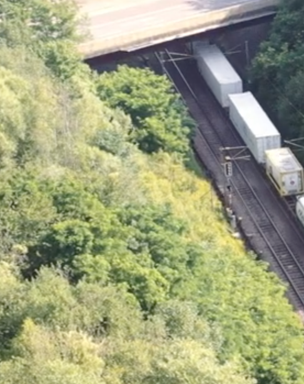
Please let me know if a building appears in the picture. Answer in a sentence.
No, no building is visible in the scene.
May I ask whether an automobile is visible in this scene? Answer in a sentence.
No, no automobile is visible in the view.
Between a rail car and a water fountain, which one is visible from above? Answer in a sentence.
This aerial view contains a rail car.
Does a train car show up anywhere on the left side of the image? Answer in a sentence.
No, looking on the left side of the image, there is no train car.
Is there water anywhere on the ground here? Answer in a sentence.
No, the picture contains no water.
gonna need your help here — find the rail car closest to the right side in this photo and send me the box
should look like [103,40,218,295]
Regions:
[265,167,304,229]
